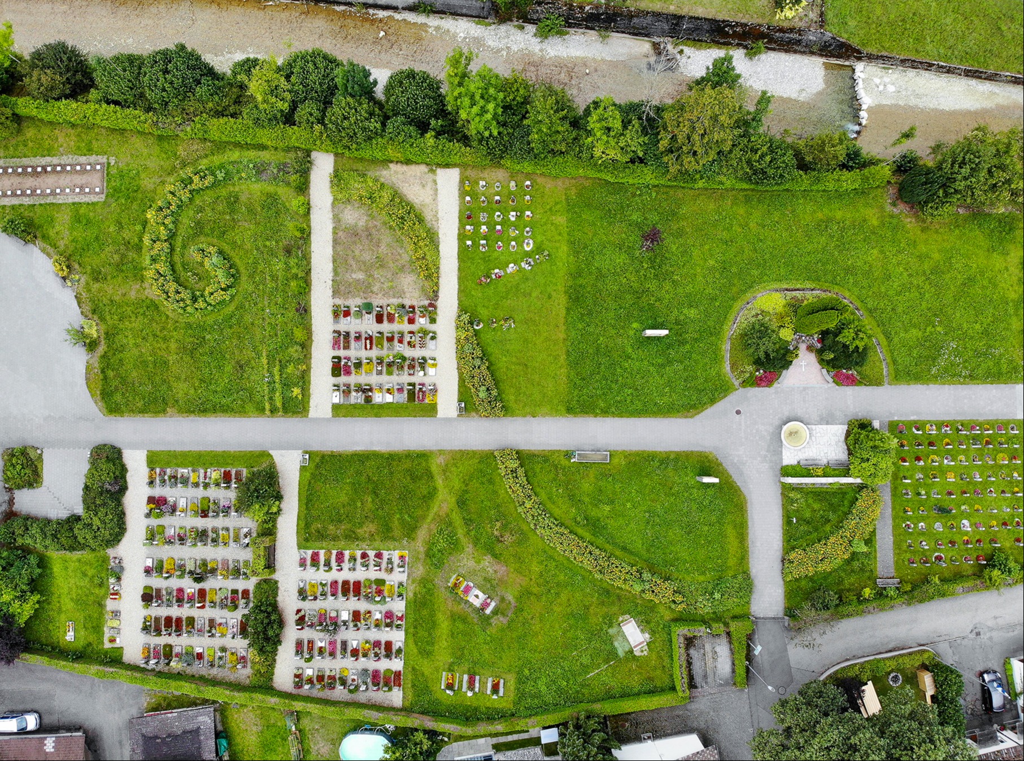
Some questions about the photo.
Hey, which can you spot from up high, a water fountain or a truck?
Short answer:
water fountain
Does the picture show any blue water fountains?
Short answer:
No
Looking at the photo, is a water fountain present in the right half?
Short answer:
Yes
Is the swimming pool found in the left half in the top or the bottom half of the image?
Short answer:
bottom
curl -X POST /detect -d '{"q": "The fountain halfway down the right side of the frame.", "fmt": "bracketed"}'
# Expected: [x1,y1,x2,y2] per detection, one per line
[780,421,810,449]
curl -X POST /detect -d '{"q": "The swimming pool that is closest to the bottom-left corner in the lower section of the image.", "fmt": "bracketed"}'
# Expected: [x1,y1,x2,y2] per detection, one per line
[340,728,394,761]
